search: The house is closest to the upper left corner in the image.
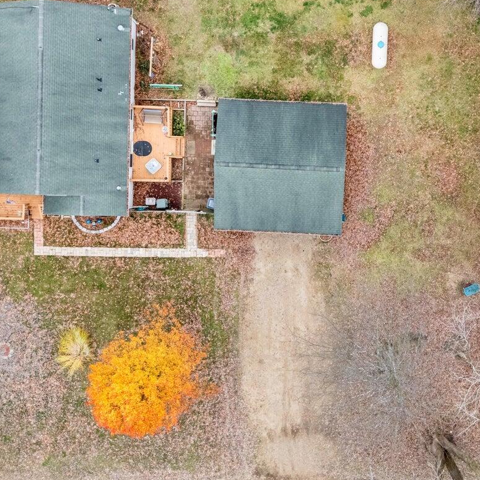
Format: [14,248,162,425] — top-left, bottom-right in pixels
[0,0,141,218]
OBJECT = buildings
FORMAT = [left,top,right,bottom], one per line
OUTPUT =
[211,97,348,239]
[0,0,141,218]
